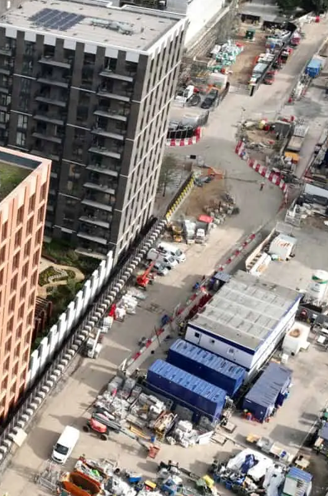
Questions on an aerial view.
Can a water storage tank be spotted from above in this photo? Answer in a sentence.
Yes, the image includes a water storage tank.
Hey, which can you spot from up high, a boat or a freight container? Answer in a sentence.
Looking from above, you can make out a freight container.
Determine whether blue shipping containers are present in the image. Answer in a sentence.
Yes, a blue shipping container appears in the view.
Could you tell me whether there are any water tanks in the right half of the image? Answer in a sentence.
Yes, a water tank is visible in the right half of the image.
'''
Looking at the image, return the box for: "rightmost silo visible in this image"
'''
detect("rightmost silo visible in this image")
[305,261,328,311]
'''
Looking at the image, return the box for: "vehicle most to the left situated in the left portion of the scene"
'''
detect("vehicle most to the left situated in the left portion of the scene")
[54,420,83,462]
